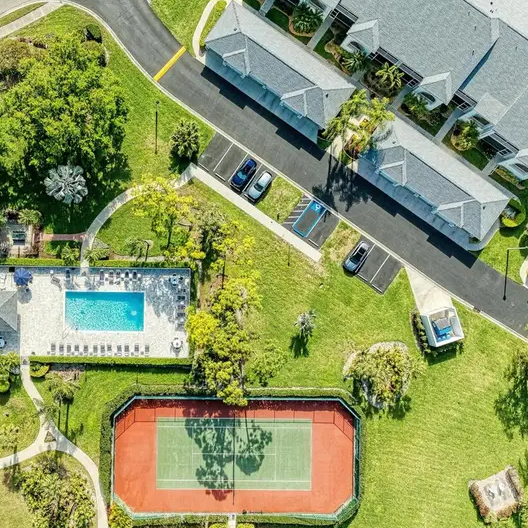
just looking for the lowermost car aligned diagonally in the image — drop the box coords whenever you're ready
[344,242,369,273]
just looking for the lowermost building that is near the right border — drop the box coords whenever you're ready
[362,114,510,242]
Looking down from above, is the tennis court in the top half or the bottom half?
bottom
